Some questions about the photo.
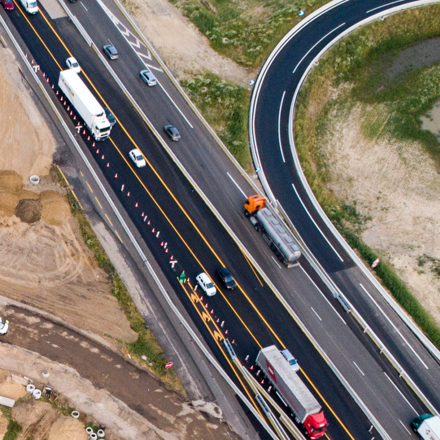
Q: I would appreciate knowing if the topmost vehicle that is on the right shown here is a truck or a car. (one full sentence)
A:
Looking closely, the topmost vehicle that is on the right is a truck.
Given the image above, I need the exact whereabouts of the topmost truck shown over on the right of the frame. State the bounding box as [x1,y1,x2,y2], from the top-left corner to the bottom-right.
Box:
[247,195,303,266]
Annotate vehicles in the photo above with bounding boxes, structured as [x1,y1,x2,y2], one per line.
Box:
[216,269,238,293]
[0,0,14,11]
[162,125,183,144]
[102,45,120,63]
[58,67,113,143]
[280,347,302,374]
[128,150,147,170]
[139,71,159,89]
[255,345,330,440]
[407,408,440,440]
[247,195,303,266]
[16,0,37,18]
[194,273,217,299]
[64,56,82,74]
[103,106,118,128]
[0,315,10,335]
